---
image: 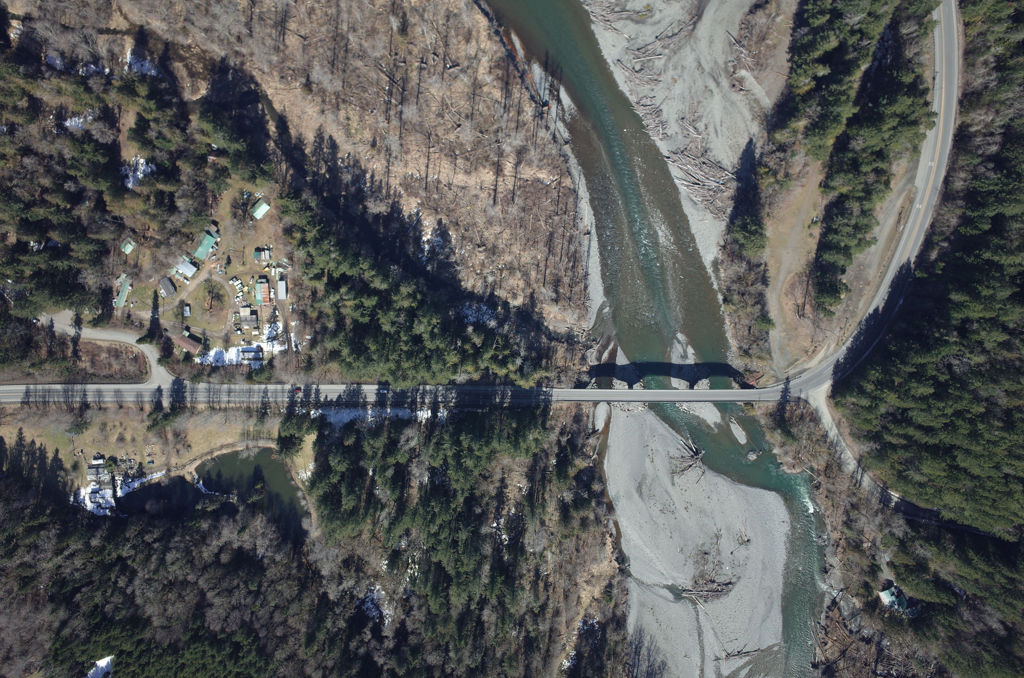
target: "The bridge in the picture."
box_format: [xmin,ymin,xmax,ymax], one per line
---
[575,384,742,402]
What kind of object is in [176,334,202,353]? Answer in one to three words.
house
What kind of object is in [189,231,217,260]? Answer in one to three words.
building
